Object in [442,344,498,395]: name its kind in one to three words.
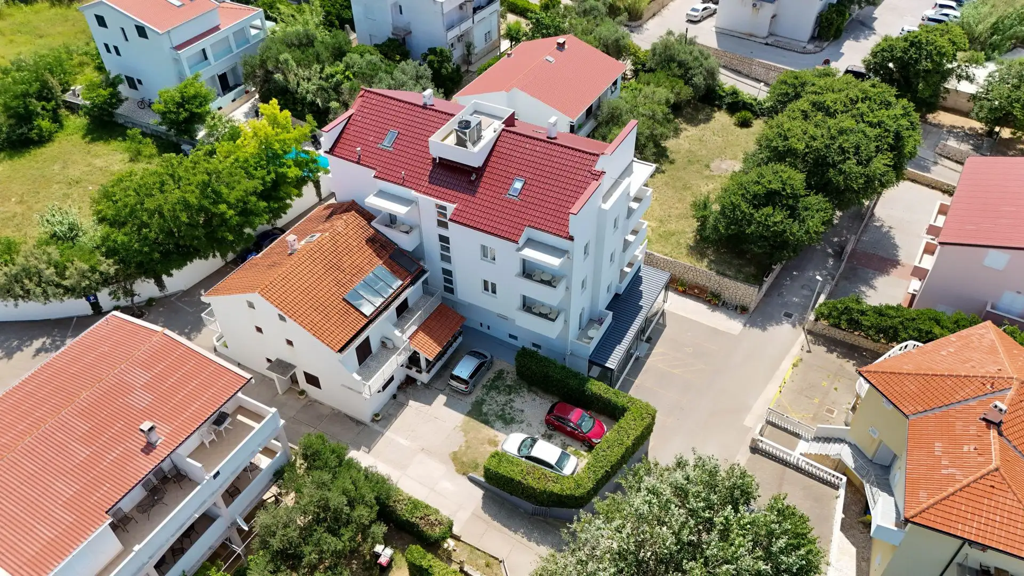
car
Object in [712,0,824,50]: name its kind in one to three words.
building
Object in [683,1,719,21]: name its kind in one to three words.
car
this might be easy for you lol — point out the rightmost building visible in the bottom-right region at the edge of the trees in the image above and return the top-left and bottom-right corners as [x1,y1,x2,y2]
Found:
[808,319,1024,576]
